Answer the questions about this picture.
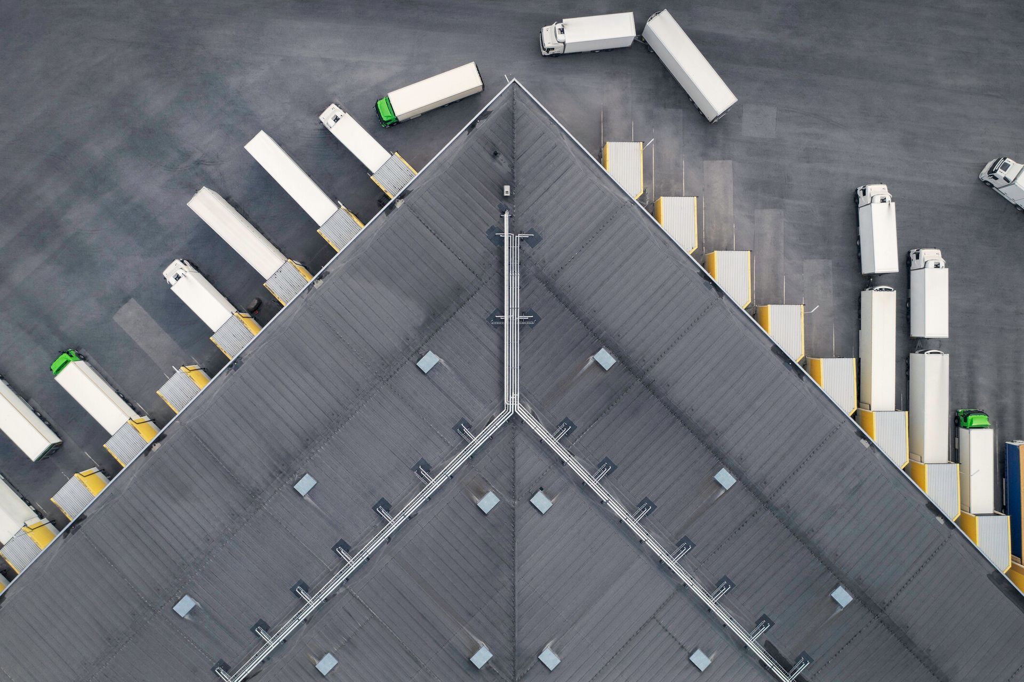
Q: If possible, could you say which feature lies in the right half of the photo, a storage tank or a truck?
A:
truck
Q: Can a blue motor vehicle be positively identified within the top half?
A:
No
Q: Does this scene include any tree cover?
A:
No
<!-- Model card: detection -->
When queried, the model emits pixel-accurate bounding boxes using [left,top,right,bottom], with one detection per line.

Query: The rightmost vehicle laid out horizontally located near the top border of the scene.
[538,11,636,57]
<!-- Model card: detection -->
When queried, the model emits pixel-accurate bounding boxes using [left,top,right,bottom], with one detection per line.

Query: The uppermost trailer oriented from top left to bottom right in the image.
[640,9,738,124]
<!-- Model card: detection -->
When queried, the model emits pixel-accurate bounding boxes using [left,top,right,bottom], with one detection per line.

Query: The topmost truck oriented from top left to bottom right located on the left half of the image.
[318,100,391,172]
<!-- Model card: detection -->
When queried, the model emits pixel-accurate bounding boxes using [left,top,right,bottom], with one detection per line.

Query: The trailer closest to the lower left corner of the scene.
[0,474,40,543]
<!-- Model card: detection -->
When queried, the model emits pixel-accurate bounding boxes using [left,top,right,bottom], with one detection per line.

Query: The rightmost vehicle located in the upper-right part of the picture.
[976,154,1024,217]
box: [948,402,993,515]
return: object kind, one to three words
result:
truck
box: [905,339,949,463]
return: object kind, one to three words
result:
trailer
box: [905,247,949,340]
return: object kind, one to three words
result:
truck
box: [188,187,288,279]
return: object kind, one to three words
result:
trailer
